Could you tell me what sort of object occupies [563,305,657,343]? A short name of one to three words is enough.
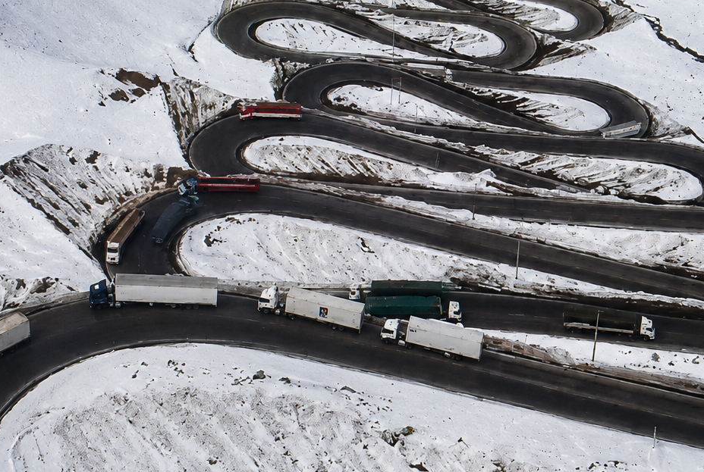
truck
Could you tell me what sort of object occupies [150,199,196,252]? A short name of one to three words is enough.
truck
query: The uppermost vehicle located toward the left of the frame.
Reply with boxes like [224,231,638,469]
[238,101,301,122]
